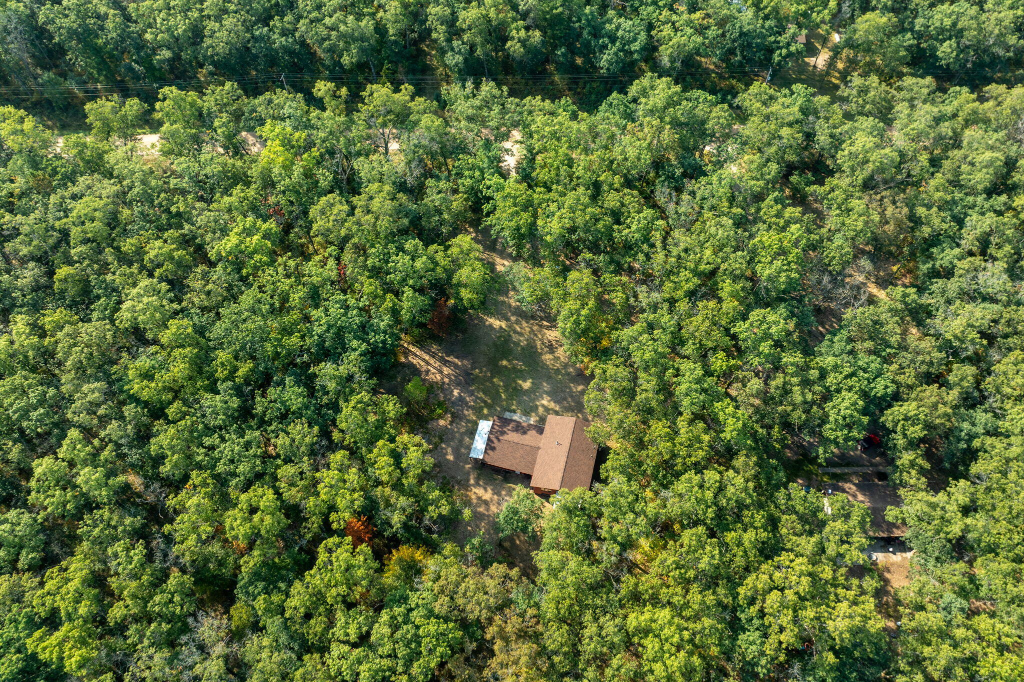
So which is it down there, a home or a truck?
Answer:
home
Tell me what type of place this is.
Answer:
forest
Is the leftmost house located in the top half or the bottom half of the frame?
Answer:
bottom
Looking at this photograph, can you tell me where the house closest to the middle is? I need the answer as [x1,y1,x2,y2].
[469,415,600,501]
